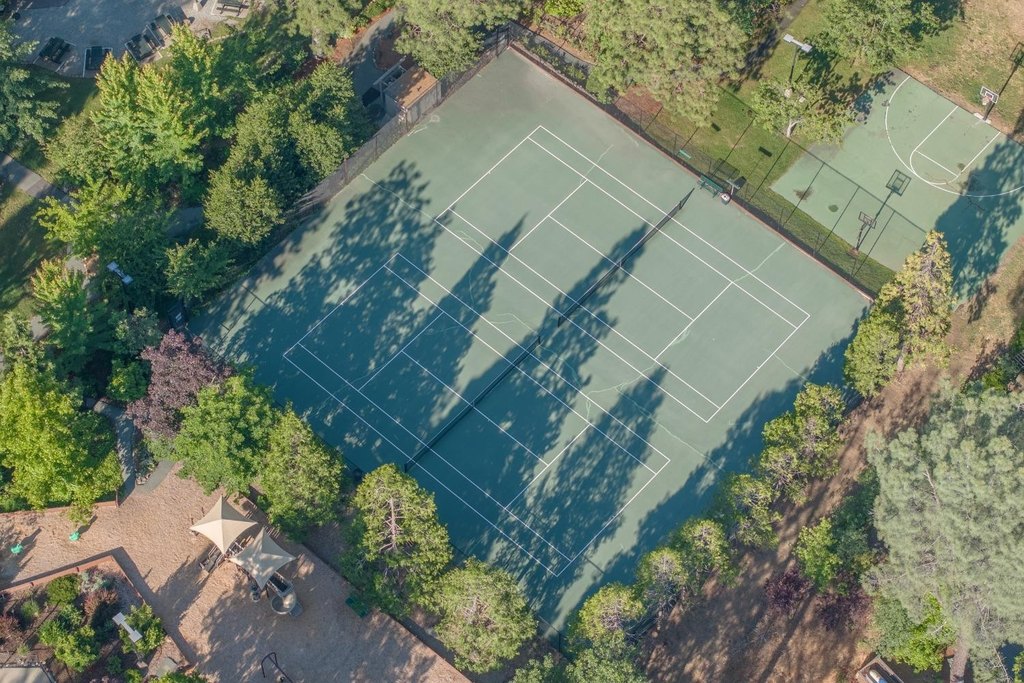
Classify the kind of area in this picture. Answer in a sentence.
The area seen from above is a sports ground.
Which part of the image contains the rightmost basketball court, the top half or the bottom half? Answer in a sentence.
You can find the rightmost basketball court in the top half.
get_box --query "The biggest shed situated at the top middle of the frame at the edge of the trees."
[367,48,439,128]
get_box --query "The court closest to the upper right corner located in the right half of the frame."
[773,76,1024,308]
